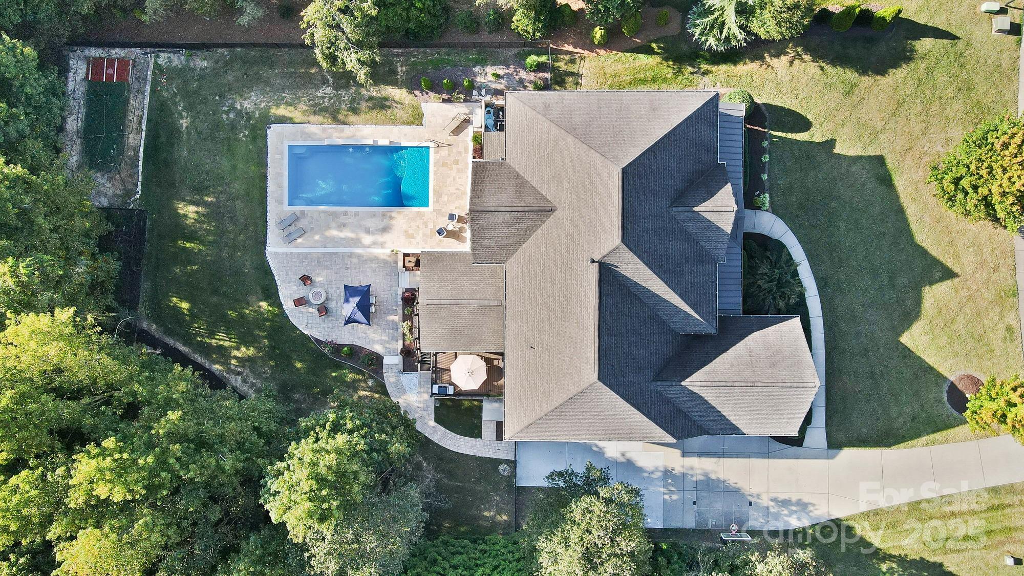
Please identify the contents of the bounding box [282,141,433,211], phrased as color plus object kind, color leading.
blue swimming pool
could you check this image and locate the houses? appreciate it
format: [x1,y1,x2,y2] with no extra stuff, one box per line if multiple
[418,89,820,443]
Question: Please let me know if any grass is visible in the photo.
Yes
